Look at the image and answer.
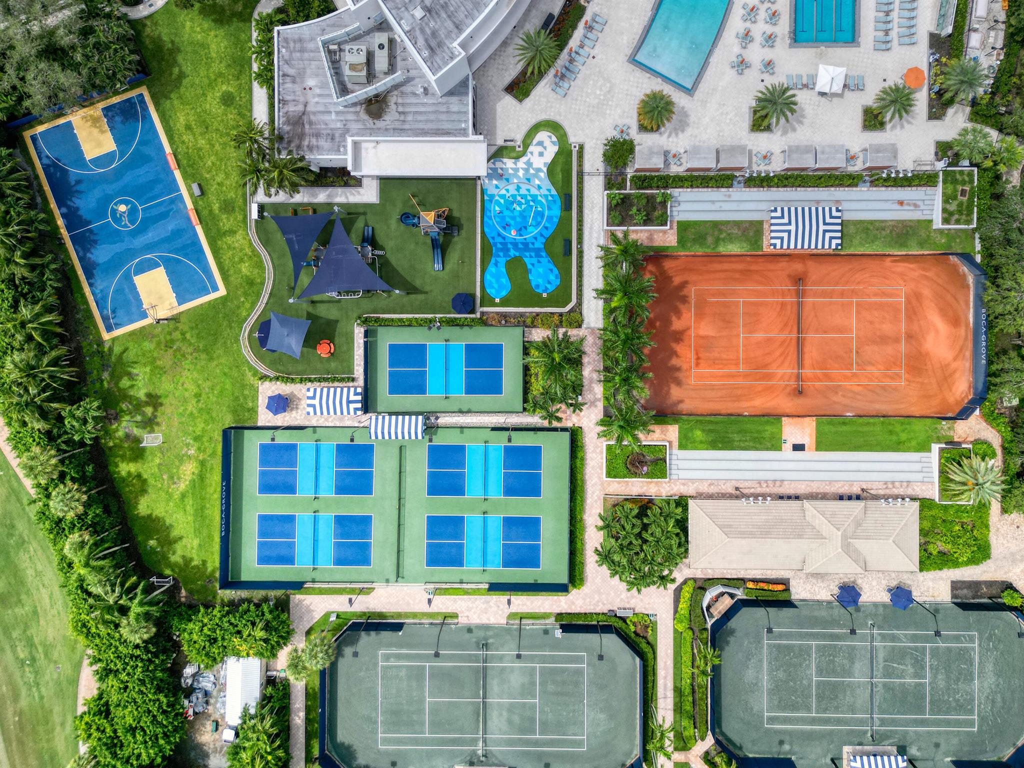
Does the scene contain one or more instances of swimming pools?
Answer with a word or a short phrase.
Yes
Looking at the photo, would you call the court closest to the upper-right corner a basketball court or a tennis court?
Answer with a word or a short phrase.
tennis court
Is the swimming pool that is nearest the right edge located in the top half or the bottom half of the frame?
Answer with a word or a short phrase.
top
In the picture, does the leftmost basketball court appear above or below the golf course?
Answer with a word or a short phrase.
above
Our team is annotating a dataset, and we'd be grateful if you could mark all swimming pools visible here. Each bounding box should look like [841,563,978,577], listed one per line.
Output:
[789,0,861,48]
[628,0,734,97]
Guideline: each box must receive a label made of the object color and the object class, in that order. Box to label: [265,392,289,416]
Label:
blue umbrella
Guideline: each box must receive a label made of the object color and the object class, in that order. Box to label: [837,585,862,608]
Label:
blue umbrella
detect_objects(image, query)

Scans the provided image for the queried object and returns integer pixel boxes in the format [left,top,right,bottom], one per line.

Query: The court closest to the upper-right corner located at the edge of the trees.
[641,254,973,416]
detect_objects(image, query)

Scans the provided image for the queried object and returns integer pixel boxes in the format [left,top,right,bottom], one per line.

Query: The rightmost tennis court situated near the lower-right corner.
[716,598,1024,768]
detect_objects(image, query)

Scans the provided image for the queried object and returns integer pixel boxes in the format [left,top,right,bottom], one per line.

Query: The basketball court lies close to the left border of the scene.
[24,85,226,340]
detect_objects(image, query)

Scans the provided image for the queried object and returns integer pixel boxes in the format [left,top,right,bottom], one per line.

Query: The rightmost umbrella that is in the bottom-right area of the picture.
[888,586,914,611]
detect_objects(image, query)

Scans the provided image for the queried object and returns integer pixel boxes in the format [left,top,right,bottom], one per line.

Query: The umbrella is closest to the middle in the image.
[452,292,473,314]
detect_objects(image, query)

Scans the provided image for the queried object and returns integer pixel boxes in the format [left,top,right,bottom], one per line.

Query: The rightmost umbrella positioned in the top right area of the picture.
[901,66,926,88]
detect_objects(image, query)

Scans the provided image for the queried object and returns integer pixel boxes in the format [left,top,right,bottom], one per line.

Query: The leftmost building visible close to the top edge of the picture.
[275,0,531,180]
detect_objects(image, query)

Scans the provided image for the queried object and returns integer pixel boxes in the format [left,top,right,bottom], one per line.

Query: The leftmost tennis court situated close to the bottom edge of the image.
[327,623,639,768]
